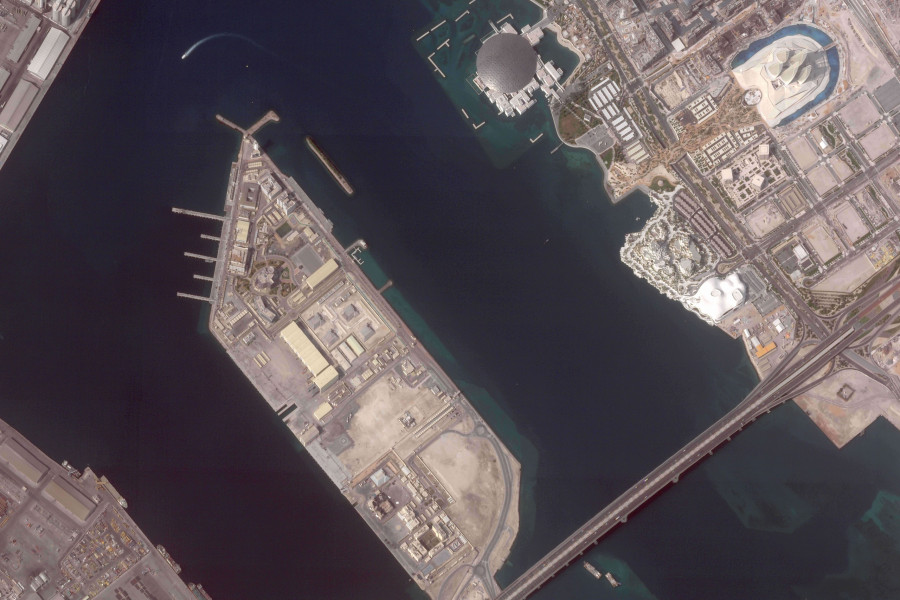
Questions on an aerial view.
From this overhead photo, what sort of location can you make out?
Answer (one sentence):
It's a port.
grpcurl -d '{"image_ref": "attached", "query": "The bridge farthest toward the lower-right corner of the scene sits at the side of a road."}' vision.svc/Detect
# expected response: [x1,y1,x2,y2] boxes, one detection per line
[492,300,886,600]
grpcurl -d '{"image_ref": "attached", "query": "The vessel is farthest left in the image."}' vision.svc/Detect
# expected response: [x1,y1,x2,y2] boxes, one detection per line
[62,460,82,478]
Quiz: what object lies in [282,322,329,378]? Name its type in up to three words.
building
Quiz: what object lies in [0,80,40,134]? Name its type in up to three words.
building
